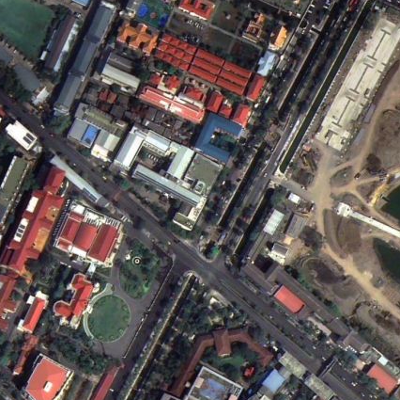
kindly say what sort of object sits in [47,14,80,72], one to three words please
shed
